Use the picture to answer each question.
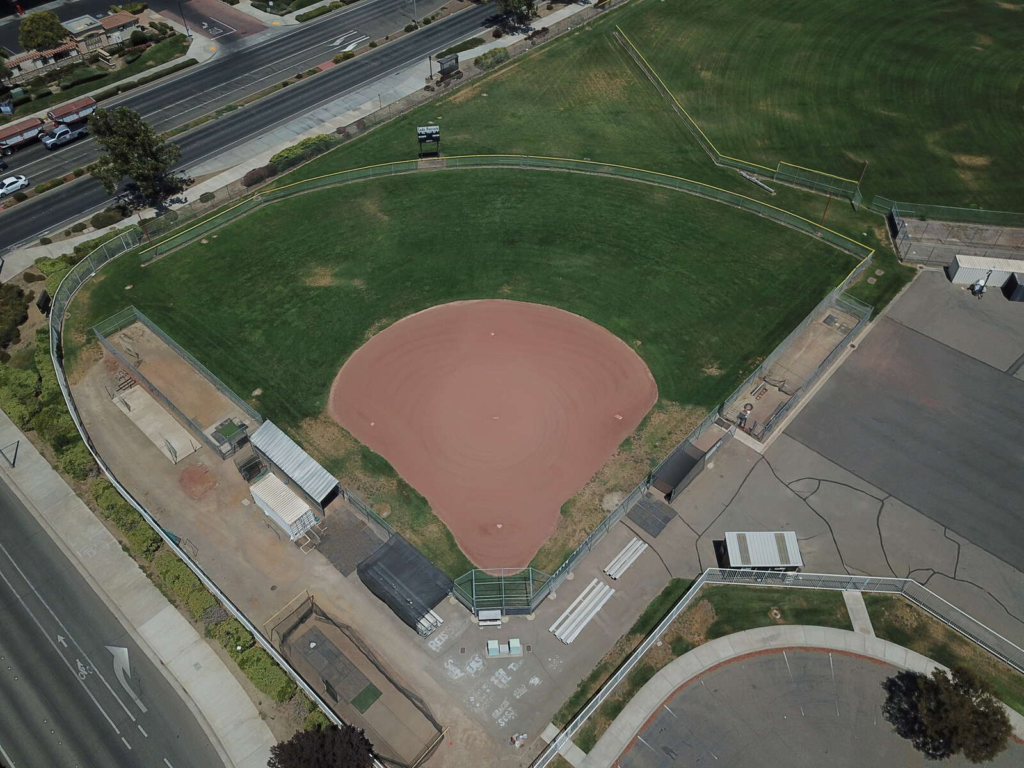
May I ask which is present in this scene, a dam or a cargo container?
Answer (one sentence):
I can see a cargo container in this picture.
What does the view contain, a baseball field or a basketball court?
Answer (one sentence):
Looking from above, you can make out a baseball field.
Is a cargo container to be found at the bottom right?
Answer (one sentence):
No, I see no cargo container at the bottom right.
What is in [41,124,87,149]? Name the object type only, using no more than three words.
truck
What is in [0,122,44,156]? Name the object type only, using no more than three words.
trailer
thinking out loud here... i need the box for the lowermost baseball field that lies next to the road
[64,167,872,608]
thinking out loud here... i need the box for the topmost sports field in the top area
[139,0,1024,317]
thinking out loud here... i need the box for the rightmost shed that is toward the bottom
[722,534,806,581]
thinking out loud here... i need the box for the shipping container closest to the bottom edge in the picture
[249,472,315,539]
